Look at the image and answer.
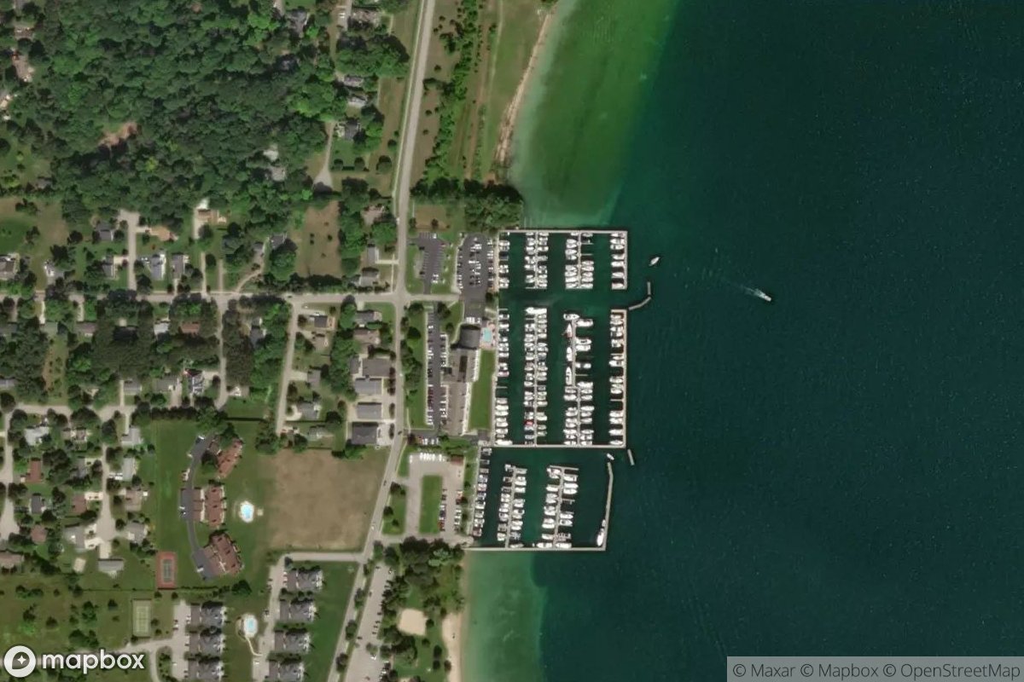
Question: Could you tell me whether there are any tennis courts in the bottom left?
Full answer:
Yes, there is a tennis court in the bottom left.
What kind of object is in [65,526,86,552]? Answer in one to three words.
house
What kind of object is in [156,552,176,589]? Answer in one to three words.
tennis court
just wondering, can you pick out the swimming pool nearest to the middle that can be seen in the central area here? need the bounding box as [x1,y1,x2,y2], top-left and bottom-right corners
[479,321,496,350]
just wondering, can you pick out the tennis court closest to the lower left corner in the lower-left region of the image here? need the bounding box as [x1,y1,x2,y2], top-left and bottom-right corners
[133,600,150,636]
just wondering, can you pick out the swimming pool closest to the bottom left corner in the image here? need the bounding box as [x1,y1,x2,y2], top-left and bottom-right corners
[243,614,257,636]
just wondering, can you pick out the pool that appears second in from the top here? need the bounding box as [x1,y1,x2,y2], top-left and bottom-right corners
[239,501,254,522]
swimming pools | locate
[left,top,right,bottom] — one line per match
[239,501,254,522]
[243,614,257,636]
[479,321,496,350]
